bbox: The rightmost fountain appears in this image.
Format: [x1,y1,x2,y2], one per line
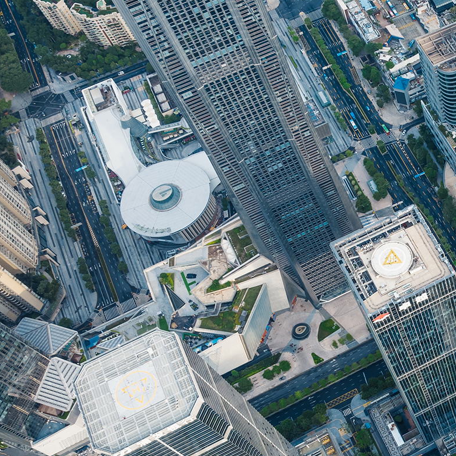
[290,320,311,340]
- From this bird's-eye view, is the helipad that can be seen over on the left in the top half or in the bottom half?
bottom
